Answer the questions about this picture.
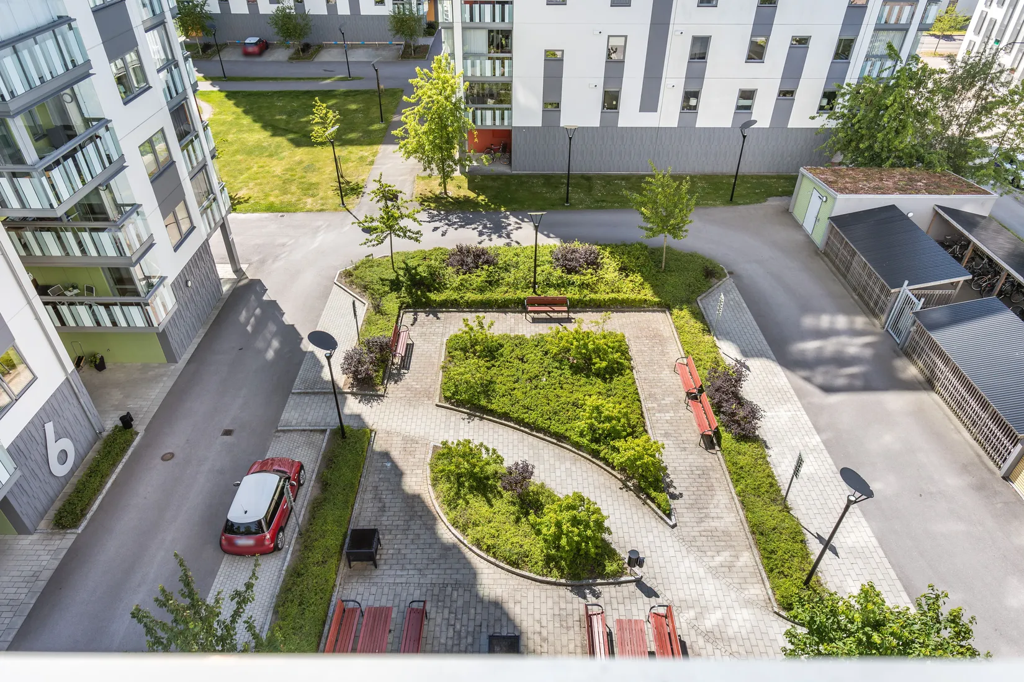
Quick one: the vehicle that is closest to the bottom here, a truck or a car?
car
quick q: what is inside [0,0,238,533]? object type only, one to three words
building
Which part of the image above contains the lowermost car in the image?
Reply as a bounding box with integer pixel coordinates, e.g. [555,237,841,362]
[216,459,305,564]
